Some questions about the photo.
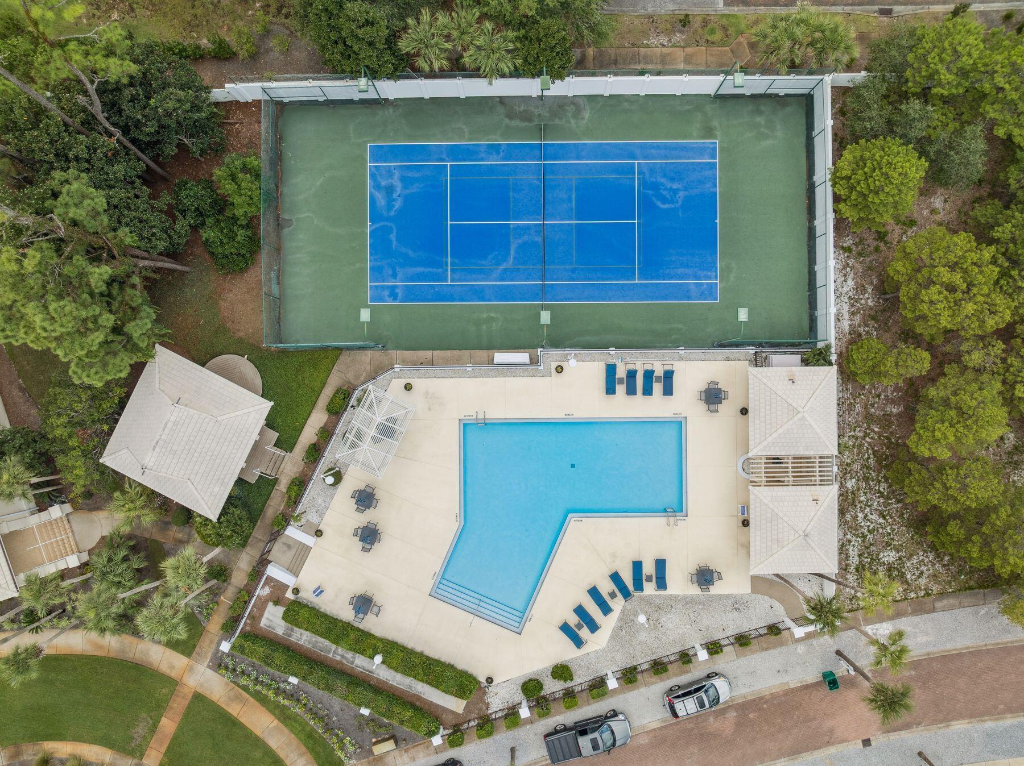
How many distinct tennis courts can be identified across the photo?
1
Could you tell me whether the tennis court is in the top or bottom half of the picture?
top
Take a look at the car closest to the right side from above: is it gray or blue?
gray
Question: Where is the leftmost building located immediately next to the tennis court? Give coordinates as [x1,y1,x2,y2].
[99,343,274,522]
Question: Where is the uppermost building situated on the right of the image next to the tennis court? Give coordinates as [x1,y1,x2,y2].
[747,365,839,459]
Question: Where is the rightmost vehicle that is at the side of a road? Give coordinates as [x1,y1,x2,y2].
[662,674,736,722]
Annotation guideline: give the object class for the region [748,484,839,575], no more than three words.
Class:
building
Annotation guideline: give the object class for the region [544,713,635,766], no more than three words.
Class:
truck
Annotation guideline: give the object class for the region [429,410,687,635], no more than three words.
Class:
swimming pool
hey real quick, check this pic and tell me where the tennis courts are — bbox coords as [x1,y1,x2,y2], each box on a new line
[273,92,818,349]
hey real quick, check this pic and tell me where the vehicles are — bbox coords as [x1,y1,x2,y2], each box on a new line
[438,761,462,766]
[662,674,736,722]
[544,713,635,766]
